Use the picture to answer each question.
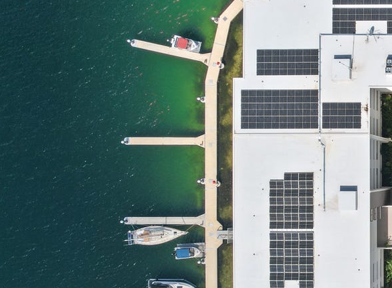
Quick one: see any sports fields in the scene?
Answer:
No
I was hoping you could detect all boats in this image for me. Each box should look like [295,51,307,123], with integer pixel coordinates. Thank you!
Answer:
[124,226,187,245]
[172,247,202,259]
[147,283,194,288]
[169,35,202,50]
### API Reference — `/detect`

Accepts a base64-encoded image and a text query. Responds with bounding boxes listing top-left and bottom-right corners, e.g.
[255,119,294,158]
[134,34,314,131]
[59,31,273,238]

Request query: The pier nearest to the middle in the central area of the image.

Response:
[123,134,205,148]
